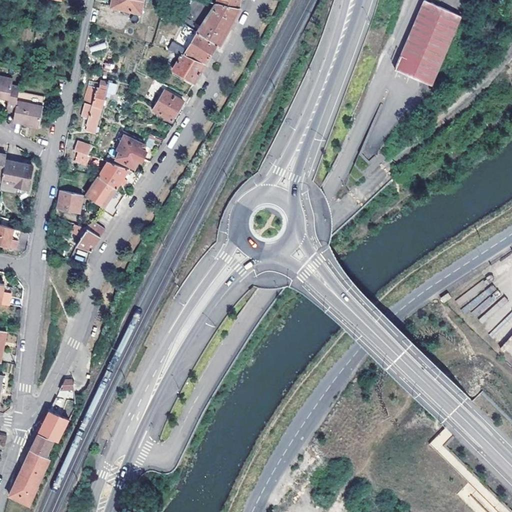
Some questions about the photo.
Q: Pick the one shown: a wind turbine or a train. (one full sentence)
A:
This aerial view contains a train.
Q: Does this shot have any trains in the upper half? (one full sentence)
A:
No, no train appears in the upper half.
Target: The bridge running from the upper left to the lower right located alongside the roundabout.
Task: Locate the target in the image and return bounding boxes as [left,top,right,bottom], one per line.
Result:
[292,247,512,488]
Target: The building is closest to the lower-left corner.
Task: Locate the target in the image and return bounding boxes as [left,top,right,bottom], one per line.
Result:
[7,452,50,509]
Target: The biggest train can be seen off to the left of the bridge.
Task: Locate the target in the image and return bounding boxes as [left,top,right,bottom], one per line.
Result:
[52,308,140,488]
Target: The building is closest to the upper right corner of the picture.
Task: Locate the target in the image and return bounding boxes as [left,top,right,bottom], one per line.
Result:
[396,0,463,86]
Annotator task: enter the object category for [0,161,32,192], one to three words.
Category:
house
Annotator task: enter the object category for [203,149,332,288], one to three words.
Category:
roundabout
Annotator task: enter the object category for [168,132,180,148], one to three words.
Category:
vehicle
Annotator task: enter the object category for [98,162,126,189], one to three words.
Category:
house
